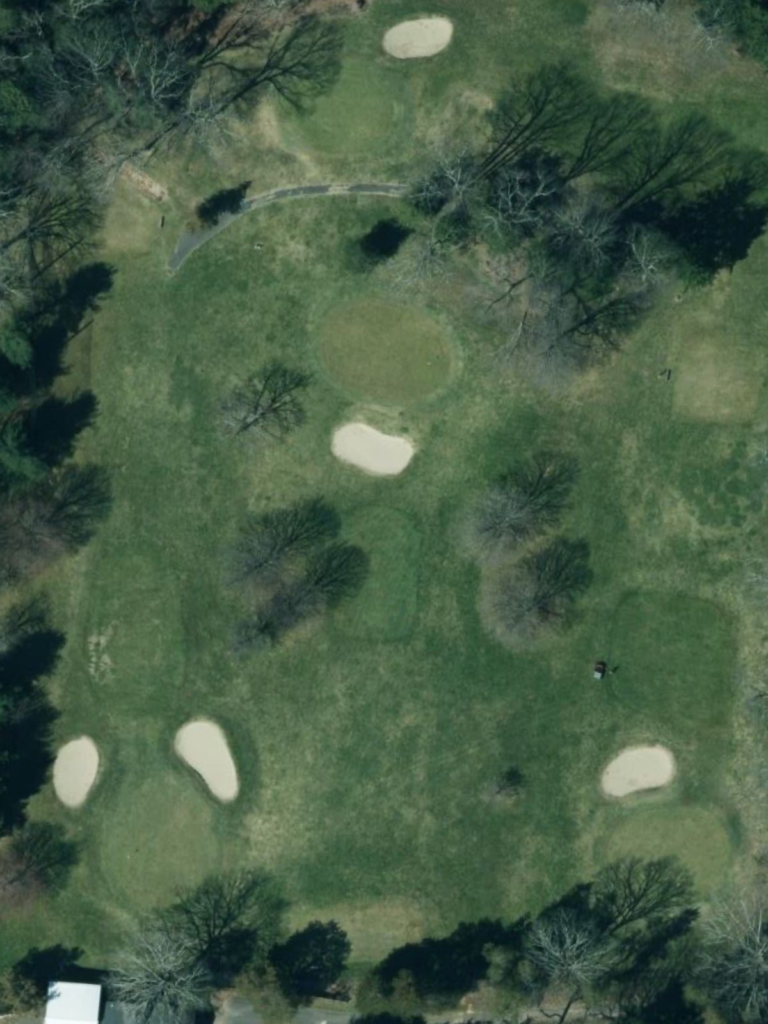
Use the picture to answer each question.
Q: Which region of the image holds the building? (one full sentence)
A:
You can find the building in the bottom left area of the picture.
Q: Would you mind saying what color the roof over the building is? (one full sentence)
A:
The roof of the building is white.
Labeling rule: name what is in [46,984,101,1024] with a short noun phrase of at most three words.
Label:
building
